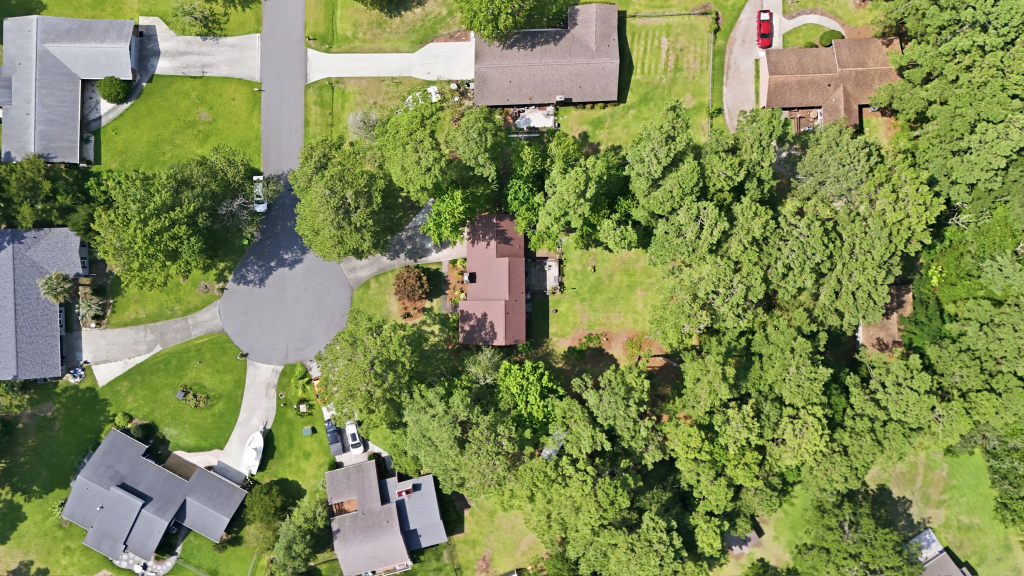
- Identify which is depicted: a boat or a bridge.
boat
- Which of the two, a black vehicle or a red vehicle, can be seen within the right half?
red vehicle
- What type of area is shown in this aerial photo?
residential area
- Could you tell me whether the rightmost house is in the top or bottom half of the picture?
bottom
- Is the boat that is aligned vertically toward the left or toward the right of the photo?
left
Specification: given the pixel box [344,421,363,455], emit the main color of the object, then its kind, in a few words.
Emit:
white car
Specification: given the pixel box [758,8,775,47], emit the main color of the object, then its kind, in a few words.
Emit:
red vehicle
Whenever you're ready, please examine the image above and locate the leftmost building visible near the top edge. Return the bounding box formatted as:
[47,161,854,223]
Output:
[0,15,141,164]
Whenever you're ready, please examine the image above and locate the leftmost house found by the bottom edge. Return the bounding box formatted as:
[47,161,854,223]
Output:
[61,428,248,562]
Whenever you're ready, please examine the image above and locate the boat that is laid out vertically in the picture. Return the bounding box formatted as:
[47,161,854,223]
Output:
[239,430,263,482]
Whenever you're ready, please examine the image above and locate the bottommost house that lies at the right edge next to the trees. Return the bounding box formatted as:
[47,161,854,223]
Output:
[904,525,973,576]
